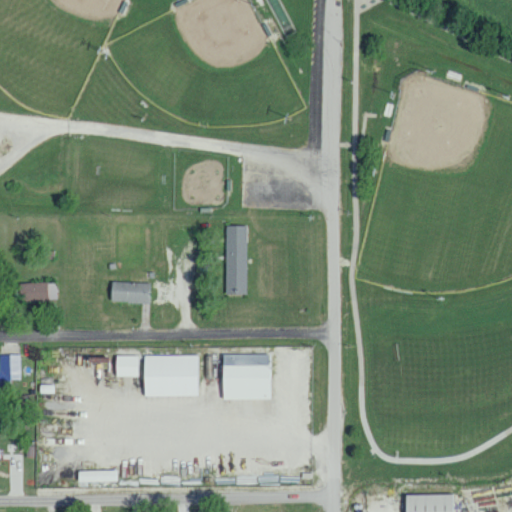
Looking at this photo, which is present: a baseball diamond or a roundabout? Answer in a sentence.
The one in the frame is a baseball diamond.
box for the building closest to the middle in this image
[224,226,250,296]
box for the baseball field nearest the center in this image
[175,152,228,210]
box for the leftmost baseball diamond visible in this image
[0,0,122,117]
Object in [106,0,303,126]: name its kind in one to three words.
baseball field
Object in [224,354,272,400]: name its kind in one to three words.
building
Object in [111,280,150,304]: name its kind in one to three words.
house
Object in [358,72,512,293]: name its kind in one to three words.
baseball field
